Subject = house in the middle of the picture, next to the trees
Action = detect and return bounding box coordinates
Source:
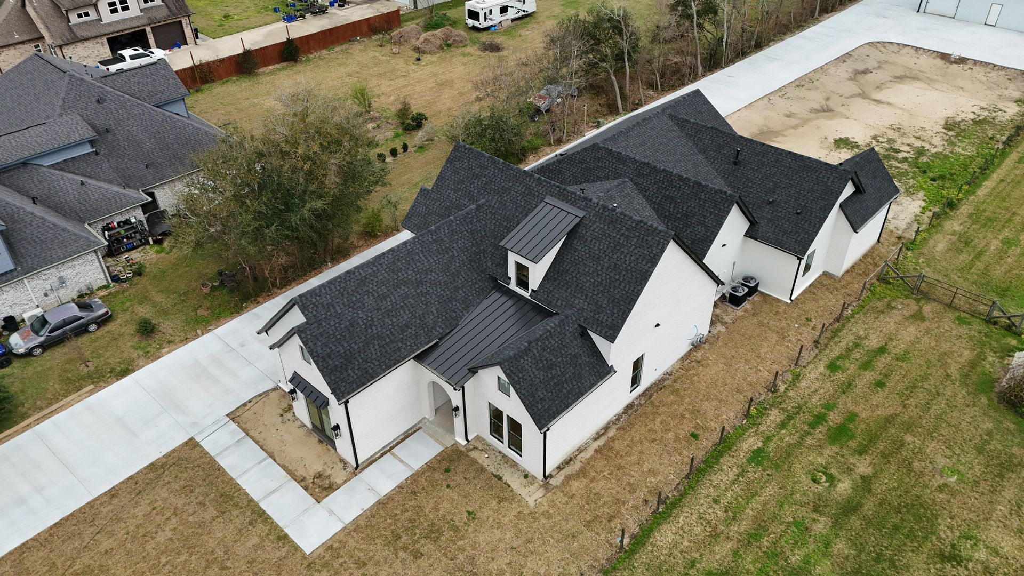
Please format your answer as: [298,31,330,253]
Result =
[253,89,902,481]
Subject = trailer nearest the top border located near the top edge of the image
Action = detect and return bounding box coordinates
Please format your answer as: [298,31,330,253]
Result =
[466,0,538,30]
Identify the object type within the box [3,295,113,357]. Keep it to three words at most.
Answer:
car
